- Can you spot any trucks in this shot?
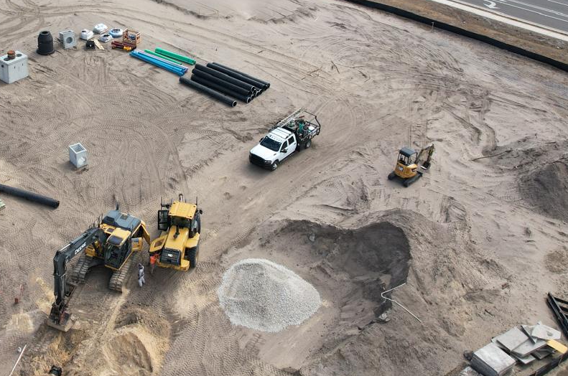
Yes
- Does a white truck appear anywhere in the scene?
Yes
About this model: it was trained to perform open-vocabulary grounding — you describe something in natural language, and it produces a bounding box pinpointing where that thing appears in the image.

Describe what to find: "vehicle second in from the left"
[149,198,211,276]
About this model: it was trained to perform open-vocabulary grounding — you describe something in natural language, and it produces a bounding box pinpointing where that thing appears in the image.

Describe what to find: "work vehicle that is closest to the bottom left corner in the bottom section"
[45,211,150,319]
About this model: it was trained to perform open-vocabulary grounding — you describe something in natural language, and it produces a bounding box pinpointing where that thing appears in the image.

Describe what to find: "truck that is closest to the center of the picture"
[246,109,320,168]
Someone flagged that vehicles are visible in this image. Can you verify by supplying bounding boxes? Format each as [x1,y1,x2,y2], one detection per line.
[149,198,211,276]
[45,211,150,319]
[387,140,429,185]
[246,109,320,168]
